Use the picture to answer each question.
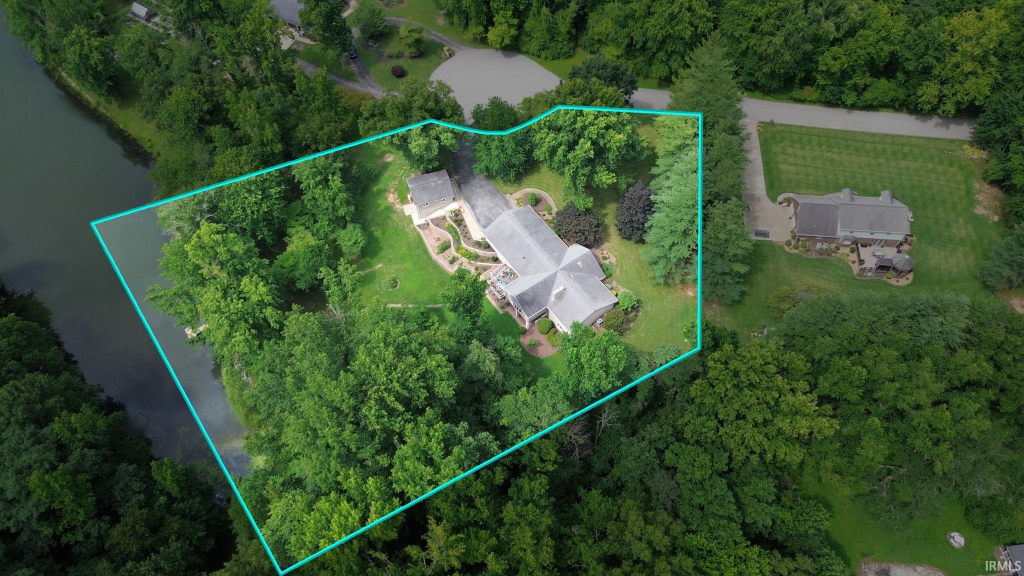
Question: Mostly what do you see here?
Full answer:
For the most part, this view shows trees.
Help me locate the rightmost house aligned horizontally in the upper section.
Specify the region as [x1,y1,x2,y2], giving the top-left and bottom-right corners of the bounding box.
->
[787,188,920,249]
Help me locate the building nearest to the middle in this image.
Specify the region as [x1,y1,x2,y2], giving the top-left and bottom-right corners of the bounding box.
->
[482,205,617,339]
